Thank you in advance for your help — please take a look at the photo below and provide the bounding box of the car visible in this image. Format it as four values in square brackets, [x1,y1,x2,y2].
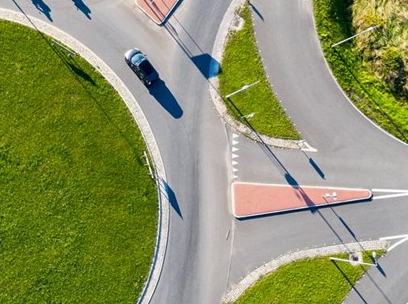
[127,49,158,87]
